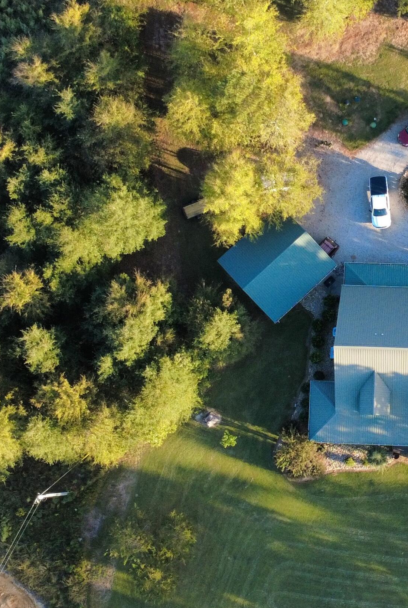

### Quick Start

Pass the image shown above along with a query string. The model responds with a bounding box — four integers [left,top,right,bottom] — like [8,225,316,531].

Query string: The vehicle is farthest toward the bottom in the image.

[320,239,338,258]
